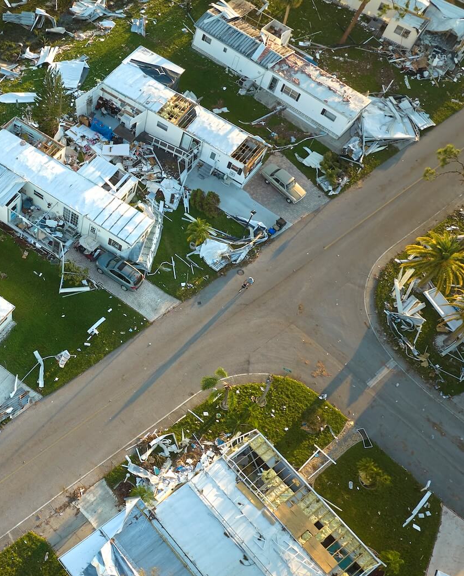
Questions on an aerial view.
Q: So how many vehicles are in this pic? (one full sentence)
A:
Looking from above, you can make out 3 vehicles.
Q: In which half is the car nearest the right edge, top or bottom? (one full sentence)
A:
It is in the top half that the car nearest the right edge appears.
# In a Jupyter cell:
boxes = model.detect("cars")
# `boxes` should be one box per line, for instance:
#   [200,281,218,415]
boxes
[90,251,147,292]
[258,164,308,206]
